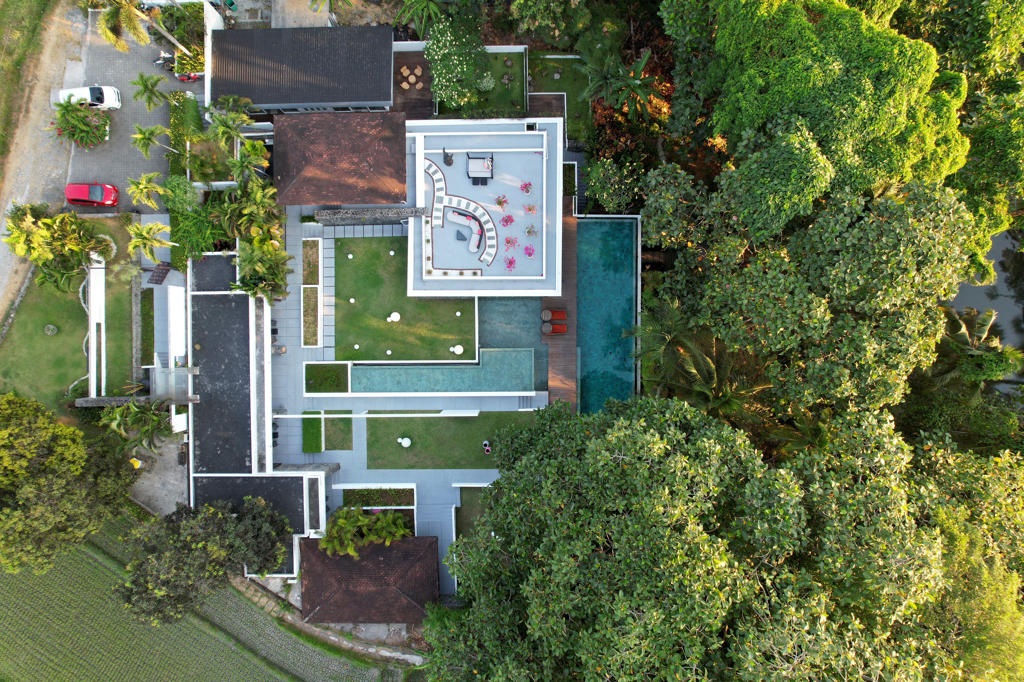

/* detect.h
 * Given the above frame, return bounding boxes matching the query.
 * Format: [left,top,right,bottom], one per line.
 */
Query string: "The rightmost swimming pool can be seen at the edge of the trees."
[578,209,633,411]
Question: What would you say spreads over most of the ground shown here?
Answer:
trees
